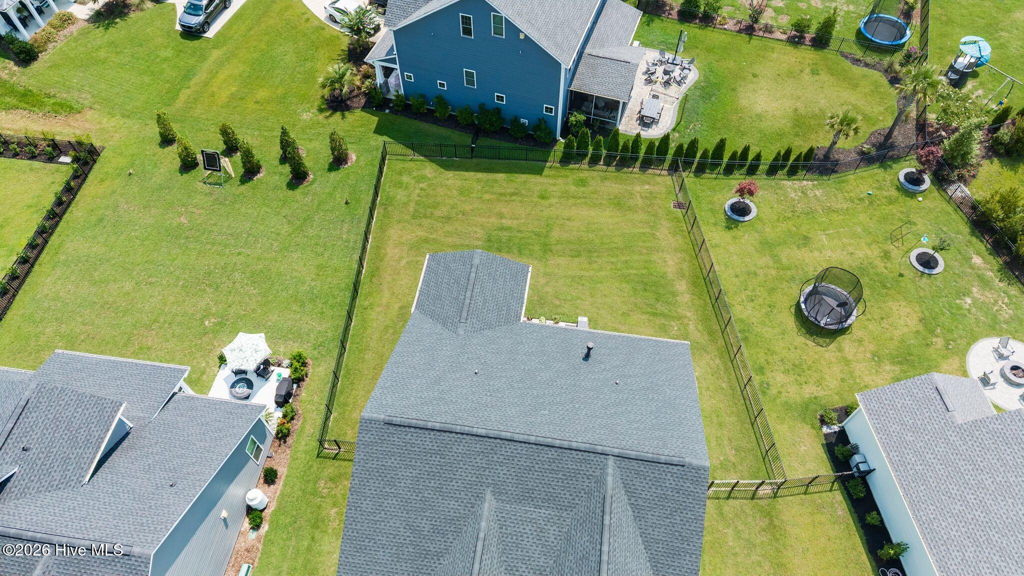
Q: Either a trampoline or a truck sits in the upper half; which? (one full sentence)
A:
Looking in the upper half, you will find a trampoline.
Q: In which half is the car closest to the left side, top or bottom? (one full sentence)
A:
The top half of the photo is where the car closest to the left side is.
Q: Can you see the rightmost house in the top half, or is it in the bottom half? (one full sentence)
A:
The rightmost house sits in the bottom half of the picture.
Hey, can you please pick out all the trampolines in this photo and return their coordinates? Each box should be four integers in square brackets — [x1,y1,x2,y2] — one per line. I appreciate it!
[855,0,923,53]
[797,266,871,339]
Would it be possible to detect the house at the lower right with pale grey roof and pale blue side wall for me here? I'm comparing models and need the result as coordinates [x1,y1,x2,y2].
[843,372,1024,576]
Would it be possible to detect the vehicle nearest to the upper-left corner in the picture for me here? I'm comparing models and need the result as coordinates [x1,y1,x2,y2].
[176,0,229,33]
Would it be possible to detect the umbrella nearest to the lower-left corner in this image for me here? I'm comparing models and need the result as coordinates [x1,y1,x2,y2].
[222,332,272,377]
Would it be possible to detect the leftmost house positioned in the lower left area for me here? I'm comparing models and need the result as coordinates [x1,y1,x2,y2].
[0,350,274,576]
